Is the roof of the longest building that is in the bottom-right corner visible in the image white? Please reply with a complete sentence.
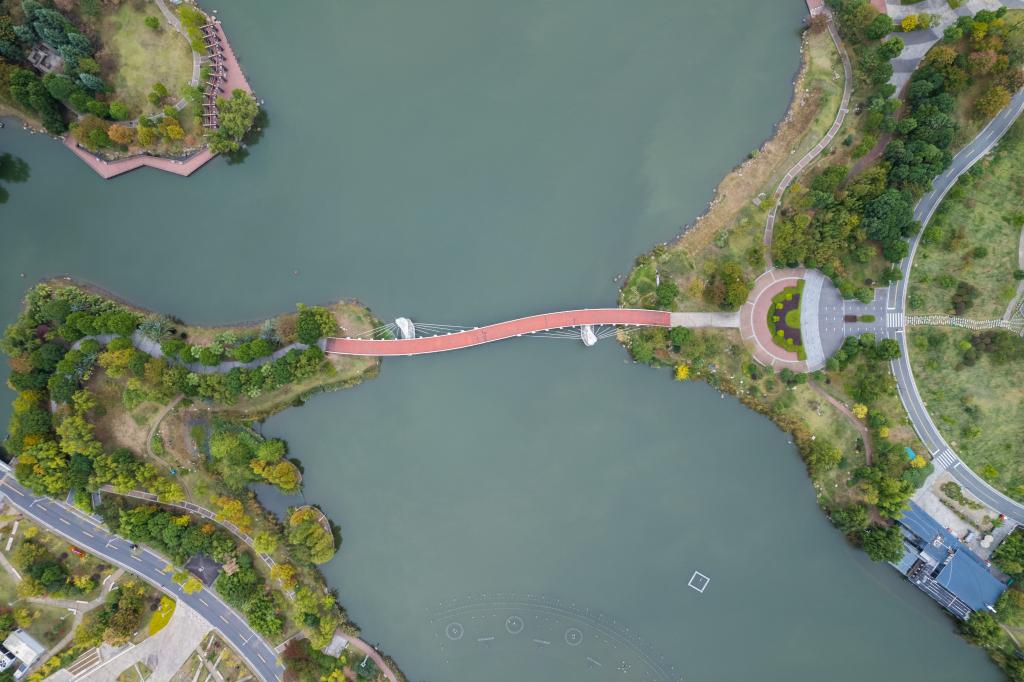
No, the color of the roof of the longest building that is in the bottom-right corner is blue.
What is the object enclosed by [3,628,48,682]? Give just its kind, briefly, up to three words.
building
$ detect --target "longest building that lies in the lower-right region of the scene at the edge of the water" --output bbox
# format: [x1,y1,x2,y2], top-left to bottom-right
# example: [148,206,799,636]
[888,500,1006,622]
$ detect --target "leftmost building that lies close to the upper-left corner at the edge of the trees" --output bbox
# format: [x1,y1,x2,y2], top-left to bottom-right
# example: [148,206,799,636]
[28,42,64,74]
